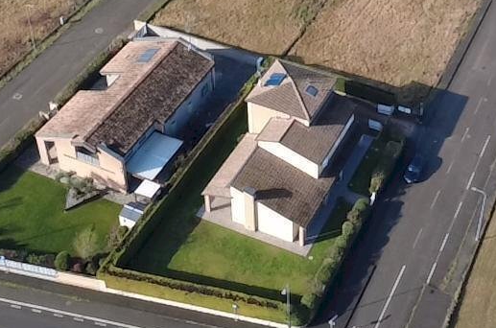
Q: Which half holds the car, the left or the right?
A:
right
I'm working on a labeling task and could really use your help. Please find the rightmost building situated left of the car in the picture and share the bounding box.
[204,59,358,247]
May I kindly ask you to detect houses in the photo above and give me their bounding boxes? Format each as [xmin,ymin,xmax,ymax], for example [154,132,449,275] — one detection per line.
[204,59,358,247]
[34,37,212,194]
